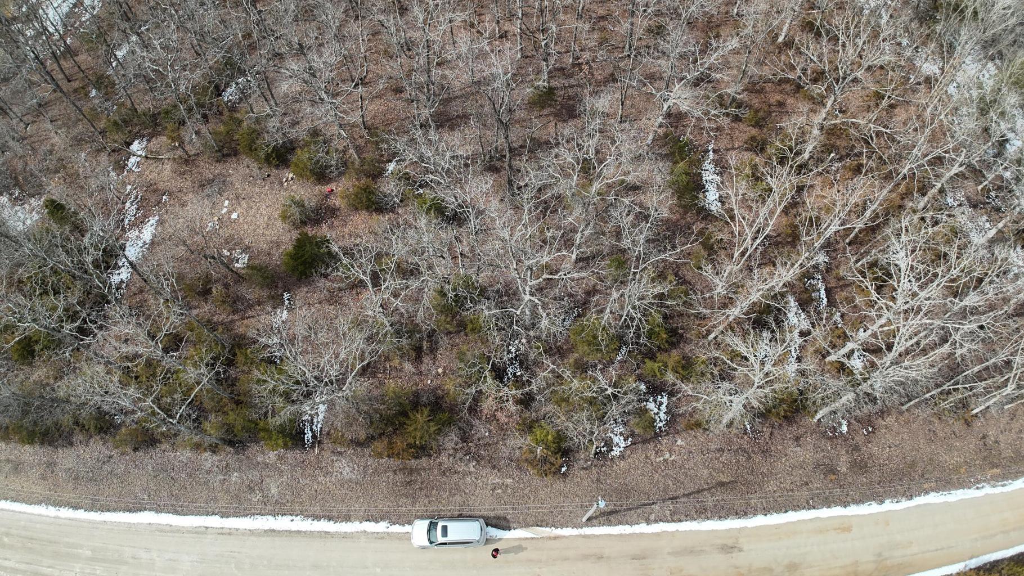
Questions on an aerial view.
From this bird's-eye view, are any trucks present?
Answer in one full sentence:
No, there isn't any truck down there.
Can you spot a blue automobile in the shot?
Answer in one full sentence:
No, this view has no blue automobile in it.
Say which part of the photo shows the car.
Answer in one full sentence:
The car appears toward the bottom of the photo.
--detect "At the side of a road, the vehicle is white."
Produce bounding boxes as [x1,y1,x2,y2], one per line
[411,514,486,552]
